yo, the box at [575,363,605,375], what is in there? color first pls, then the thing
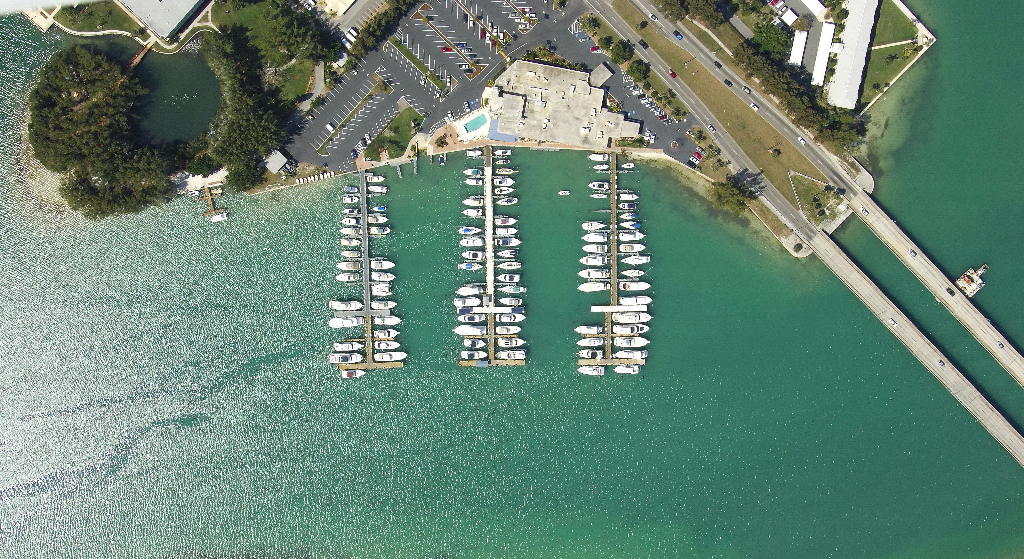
white boat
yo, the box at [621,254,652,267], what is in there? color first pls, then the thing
white boat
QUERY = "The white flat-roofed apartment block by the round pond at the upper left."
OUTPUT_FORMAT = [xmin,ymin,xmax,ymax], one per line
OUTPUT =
[122,0,204,39]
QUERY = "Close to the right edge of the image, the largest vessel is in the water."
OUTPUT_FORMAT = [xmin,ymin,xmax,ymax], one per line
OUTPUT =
[955,268,984,296]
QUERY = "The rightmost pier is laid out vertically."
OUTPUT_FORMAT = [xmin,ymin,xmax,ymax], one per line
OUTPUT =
[578,151,647,366]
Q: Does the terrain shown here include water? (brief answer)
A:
Yes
